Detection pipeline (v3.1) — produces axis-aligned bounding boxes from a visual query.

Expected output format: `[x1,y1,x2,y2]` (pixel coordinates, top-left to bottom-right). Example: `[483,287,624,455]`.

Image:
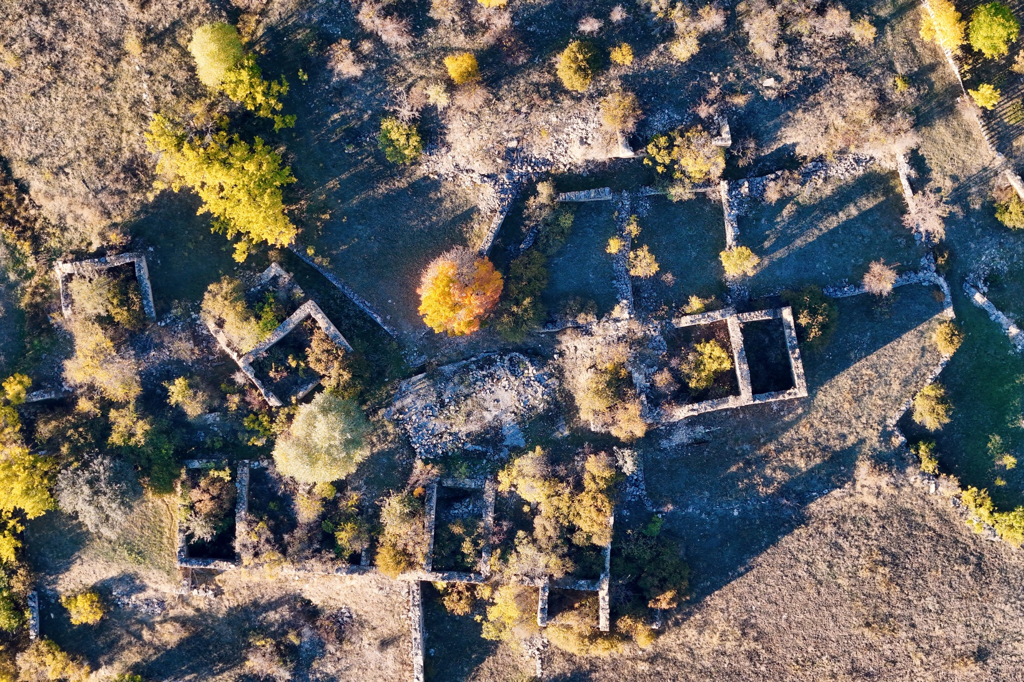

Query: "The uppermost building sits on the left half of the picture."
[58,250,163,317]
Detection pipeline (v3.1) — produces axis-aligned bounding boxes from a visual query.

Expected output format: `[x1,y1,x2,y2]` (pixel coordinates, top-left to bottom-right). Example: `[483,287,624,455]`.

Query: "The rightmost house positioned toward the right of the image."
[592,305,806,431]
